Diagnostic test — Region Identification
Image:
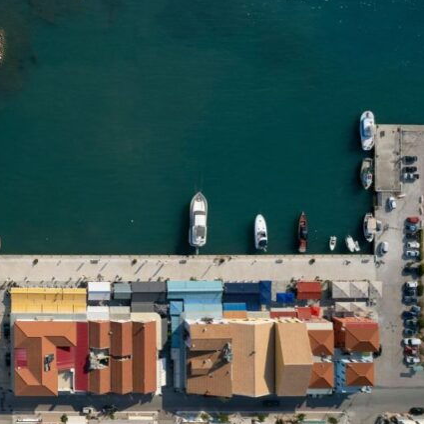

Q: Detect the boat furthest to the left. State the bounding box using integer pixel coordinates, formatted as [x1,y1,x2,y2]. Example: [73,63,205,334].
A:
[187,192,208,256]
